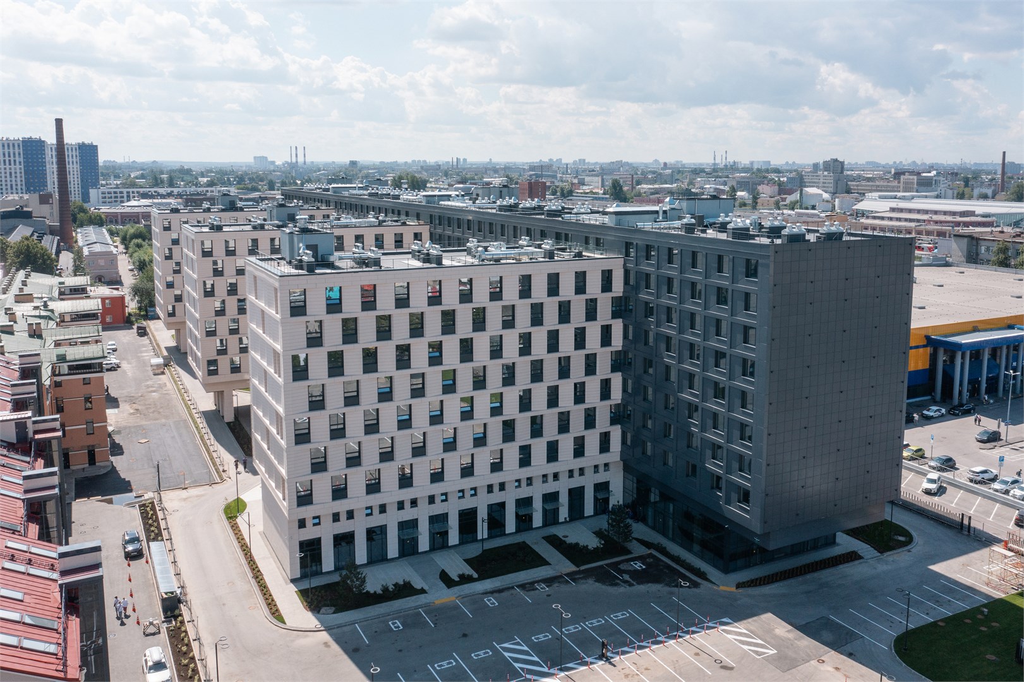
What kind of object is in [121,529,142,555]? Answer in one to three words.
car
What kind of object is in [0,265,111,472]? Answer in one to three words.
building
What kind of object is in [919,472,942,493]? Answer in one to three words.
car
